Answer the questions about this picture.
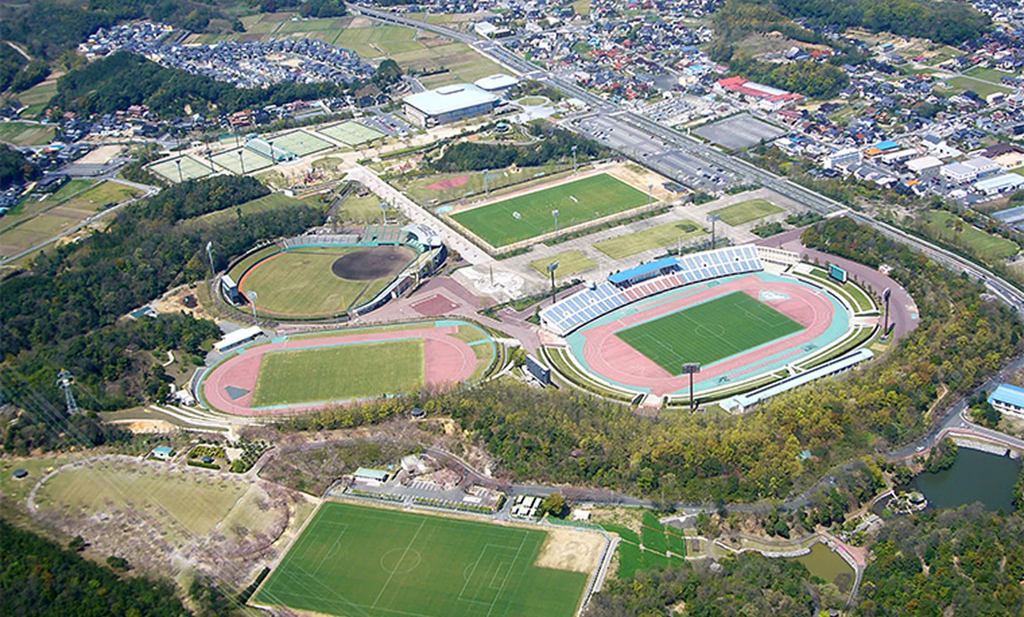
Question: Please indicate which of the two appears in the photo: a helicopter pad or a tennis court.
tennis court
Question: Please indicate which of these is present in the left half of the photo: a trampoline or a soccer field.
soccer field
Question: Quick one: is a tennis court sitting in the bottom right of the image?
No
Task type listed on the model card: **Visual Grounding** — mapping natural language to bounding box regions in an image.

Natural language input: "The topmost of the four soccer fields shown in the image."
[451,171,659,247]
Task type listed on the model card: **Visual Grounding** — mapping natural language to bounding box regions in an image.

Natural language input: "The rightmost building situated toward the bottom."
[988,383,1024,422]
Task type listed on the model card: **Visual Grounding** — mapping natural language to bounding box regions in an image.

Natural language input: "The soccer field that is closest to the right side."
[613,289,806,374]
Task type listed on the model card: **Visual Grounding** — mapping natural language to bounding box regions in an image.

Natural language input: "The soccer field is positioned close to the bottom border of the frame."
[254,501,588,617]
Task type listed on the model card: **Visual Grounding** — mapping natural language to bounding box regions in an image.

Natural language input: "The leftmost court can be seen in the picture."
[150,154,214,180]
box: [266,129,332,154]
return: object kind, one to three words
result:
tennis court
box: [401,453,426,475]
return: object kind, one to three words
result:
house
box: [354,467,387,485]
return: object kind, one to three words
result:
building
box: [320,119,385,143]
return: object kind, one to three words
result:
tennis court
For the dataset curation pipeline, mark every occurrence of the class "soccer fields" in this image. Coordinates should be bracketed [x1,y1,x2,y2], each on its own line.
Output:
[451,171,659,247]
[251,337,426,406]
[613,289,806,374]
[254,501,588,617]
